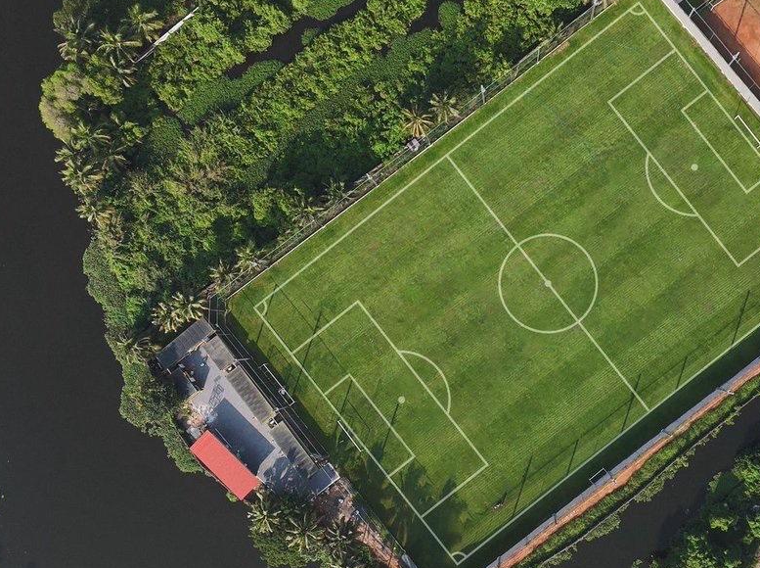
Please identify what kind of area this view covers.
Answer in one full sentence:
This image shows a sports ground.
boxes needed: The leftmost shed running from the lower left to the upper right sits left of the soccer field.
[157,318,218,371]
